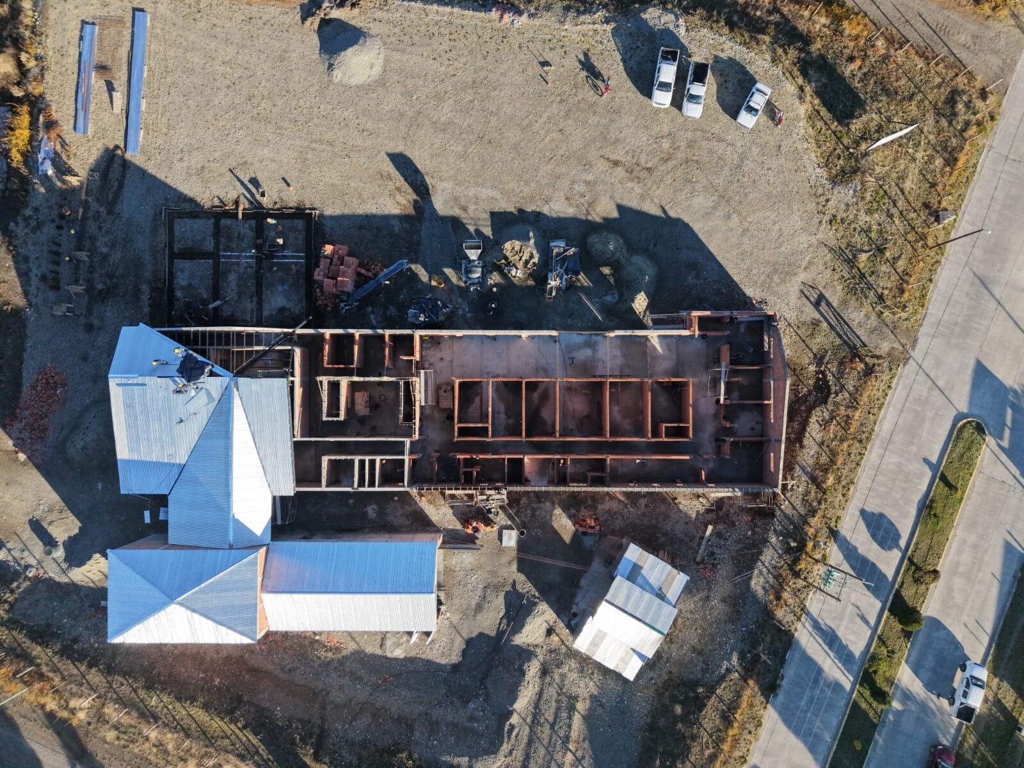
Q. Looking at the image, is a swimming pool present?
No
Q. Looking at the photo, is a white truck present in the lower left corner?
No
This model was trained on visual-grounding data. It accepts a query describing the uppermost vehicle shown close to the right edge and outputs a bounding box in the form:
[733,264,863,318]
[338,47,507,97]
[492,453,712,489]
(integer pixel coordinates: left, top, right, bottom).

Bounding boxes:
[953,662,991,725]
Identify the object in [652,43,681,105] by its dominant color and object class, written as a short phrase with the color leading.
white truck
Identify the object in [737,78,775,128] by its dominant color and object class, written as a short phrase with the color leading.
white car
